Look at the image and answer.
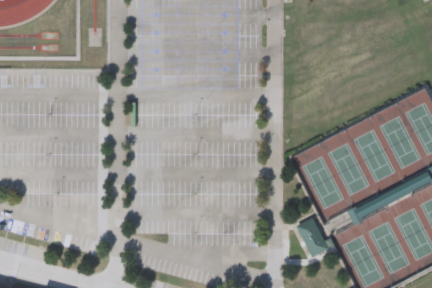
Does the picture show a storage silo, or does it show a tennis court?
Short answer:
tennis court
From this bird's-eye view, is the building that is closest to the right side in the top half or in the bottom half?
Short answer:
bottom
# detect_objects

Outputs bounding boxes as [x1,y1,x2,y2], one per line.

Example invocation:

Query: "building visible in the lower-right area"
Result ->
[298,214,335,256]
